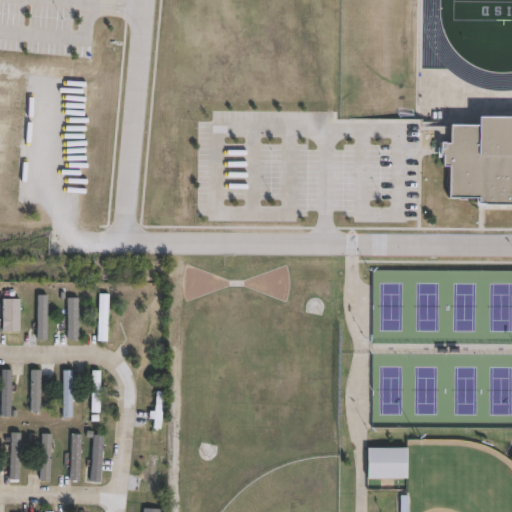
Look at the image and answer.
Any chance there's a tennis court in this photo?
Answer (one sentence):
Yes, the picture does show a tennis court.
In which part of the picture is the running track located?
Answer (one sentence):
The running track is in the top right part of the image.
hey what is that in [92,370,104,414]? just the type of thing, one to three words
house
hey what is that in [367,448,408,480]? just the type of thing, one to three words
building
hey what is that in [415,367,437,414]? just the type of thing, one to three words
tennis court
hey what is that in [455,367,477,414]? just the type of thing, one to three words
tennis court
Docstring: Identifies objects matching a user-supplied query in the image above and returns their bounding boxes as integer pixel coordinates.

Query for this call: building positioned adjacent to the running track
[440,116,512,210]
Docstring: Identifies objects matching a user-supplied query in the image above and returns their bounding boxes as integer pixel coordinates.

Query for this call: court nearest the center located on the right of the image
[380,284,402,332]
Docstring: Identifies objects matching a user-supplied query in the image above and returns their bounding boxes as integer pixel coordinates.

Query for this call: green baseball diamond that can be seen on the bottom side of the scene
[406,439,512,512]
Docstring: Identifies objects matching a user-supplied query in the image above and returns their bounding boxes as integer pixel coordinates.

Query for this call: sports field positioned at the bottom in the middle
[184,262,339,512]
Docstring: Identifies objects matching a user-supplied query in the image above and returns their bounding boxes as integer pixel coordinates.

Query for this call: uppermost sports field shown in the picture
[444,0,512,71]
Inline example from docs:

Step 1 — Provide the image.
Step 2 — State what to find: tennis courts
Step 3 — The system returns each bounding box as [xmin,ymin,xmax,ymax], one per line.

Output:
[490,367,512,414]
[415,367,437,414]
[455,367,477,414]
[380,284,402,332]
[454,284,476,332]
[490,284,512,332]
[380,367,402,414]
[416,284,438,332]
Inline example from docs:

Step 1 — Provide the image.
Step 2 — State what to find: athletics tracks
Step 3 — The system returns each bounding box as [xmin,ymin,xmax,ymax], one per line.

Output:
[423,0,512,90]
